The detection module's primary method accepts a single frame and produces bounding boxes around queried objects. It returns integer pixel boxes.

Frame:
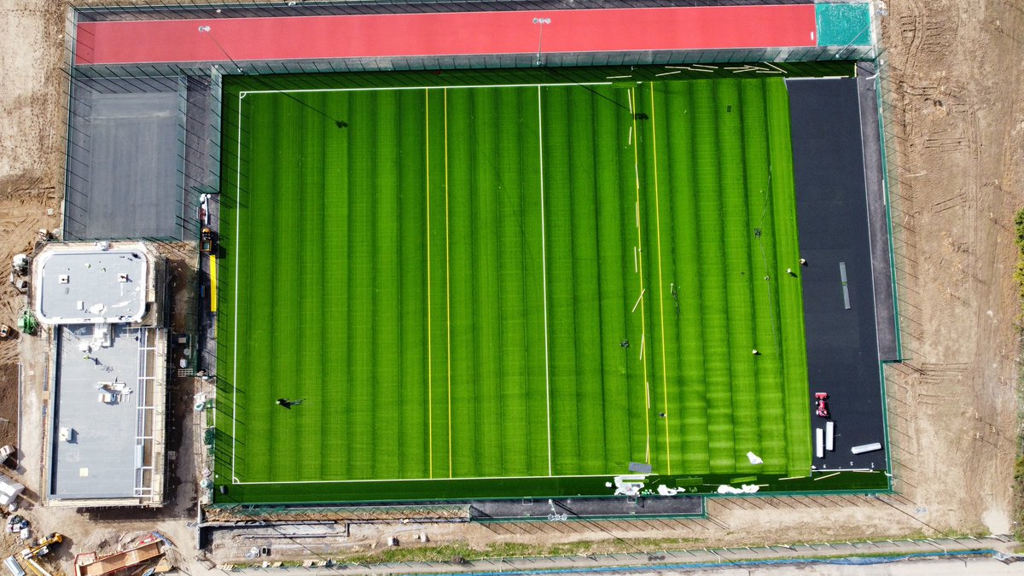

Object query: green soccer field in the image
[211,58,892,507]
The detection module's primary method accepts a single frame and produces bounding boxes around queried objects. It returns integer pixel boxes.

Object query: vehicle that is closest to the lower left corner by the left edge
[10,530,62,564]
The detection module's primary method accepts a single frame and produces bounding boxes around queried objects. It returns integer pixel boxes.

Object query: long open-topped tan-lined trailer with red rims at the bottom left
[74,536,166,576]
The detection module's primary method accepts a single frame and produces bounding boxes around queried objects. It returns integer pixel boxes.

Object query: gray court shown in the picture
[67,77,185,239]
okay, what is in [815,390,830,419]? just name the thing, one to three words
work vehicle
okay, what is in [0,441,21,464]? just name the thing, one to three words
truck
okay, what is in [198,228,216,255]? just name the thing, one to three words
vehicle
